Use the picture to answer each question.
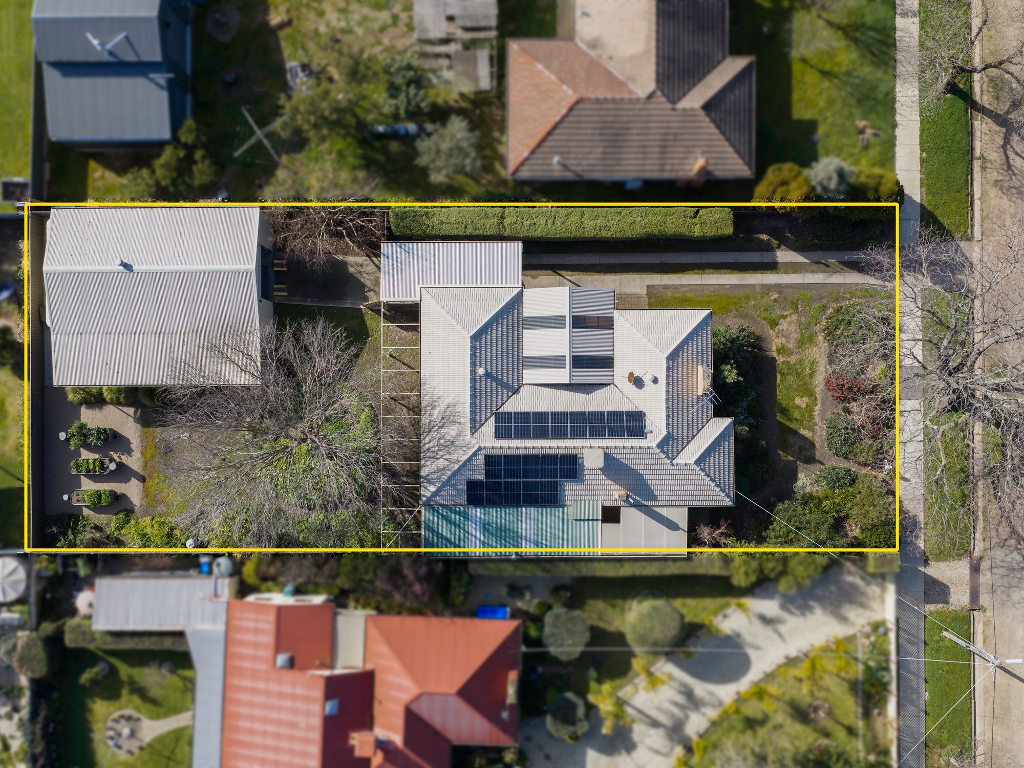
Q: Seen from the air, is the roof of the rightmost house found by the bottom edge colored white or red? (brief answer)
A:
red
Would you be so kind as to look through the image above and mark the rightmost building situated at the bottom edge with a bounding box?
[226,594,524,768]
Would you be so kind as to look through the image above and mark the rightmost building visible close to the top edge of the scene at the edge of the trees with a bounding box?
[504,0,758,181]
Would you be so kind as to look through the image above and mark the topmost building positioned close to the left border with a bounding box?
[32,0,191,152]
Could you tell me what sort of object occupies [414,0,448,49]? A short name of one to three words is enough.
shed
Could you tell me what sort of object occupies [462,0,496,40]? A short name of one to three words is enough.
shed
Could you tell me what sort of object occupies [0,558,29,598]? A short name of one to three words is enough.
umbrella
